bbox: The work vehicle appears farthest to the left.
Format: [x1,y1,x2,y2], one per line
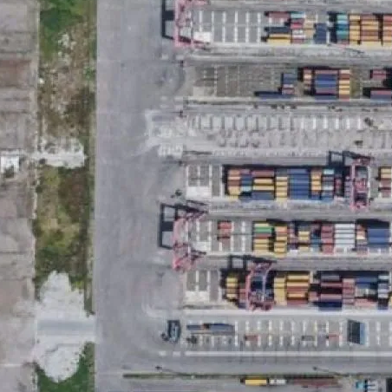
[164,323,179,344]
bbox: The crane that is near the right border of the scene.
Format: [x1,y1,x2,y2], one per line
[350,155,377,210]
